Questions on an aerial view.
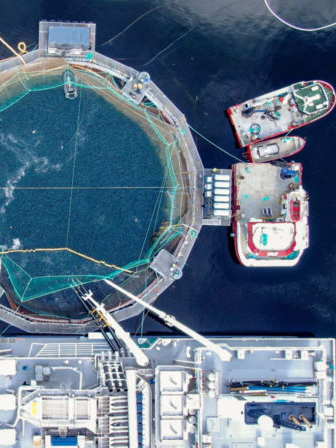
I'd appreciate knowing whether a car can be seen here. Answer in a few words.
No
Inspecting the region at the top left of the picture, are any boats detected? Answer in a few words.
No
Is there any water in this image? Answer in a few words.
Yes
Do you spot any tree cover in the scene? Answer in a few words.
No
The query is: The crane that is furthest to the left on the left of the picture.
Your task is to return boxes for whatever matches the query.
[79,285,147,375]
